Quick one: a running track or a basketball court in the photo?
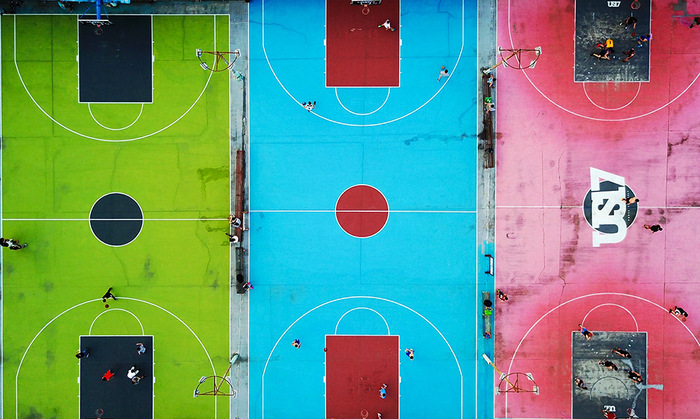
basketball court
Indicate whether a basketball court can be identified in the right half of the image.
Yes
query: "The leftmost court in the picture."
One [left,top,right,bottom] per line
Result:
[1,14,230,419]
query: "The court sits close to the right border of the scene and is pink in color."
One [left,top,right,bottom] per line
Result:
[494,0,700,419]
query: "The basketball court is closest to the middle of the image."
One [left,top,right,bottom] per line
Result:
[247,0,477,419]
